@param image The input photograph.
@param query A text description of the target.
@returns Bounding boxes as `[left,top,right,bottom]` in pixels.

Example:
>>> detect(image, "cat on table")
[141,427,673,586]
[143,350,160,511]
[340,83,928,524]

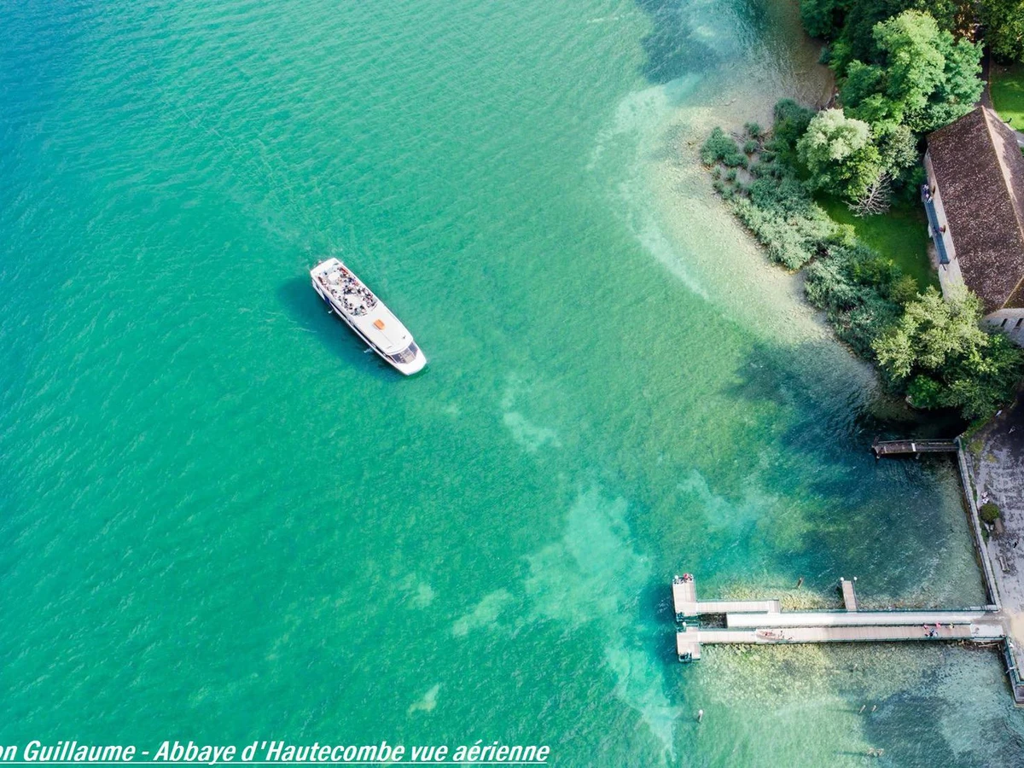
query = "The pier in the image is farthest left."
[675,578,780,624]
